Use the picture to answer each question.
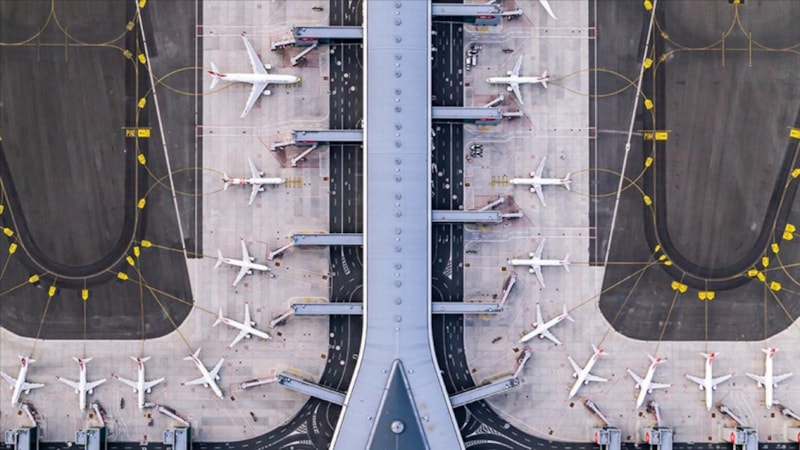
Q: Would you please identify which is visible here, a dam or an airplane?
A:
airplane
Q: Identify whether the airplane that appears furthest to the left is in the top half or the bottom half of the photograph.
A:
bottom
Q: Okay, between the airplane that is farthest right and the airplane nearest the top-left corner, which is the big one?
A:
the airplane nearest the top-left corner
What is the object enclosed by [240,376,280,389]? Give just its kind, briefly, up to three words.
jet bridge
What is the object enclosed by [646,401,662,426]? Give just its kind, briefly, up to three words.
jet bridge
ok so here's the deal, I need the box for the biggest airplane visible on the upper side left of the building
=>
[202,28,301,120]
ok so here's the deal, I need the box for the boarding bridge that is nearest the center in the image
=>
[477,198,505,210]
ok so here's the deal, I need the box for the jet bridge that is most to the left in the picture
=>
[20,402,42,427]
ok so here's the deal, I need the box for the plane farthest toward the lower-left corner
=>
[0,355,44,406]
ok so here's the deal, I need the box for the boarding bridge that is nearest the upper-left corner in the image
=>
[270,38,297,55]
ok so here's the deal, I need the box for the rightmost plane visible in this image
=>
[746,348,798,407]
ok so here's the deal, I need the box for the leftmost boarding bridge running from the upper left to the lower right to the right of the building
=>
[583,398,609,426]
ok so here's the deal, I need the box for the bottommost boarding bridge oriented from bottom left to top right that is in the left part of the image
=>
[269,311,292,330]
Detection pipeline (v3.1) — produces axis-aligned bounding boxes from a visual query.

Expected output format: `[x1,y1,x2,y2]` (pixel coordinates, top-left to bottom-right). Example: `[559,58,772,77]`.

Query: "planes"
[507,238,571,290]
[0,355,44,406]
[746,348,798,407]
[212,301,272,348]
[486,52,551,105]
[112,356,165,411]
[520,301,578,346]
[177,345,223,398]
[214,238,271,287]
[223,155,285,207]
[685,352,738,409]
[52,357,106,412]
[202,28,301,120]
[509,155,572,207]
[567,344,614,398]
[629,353,677,407]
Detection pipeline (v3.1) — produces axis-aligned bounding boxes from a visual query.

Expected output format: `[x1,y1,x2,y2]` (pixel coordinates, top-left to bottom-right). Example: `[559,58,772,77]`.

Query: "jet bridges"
[269,142,297,153]
[477,198,505,210]
[240,376,280,389]
[91,402,109,426]
[646,401,662,426]
[269,311,292,330]
[715,405,745,427]
[513,349,530,378]
[268,243,295,260]
[583,398,609,426]
[498,274,516,308]
[500,111,523,120]
[290,144,318,167]
[144,402,193,426]
[270,38,297,55]
[482,95,505,106]
[501,211,524,219]
[20,402,42,427]
[290,44,317,68]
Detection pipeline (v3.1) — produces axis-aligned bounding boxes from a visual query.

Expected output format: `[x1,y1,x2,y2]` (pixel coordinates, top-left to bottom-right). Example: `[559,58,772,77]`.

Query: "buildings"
[329,0,466,450]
